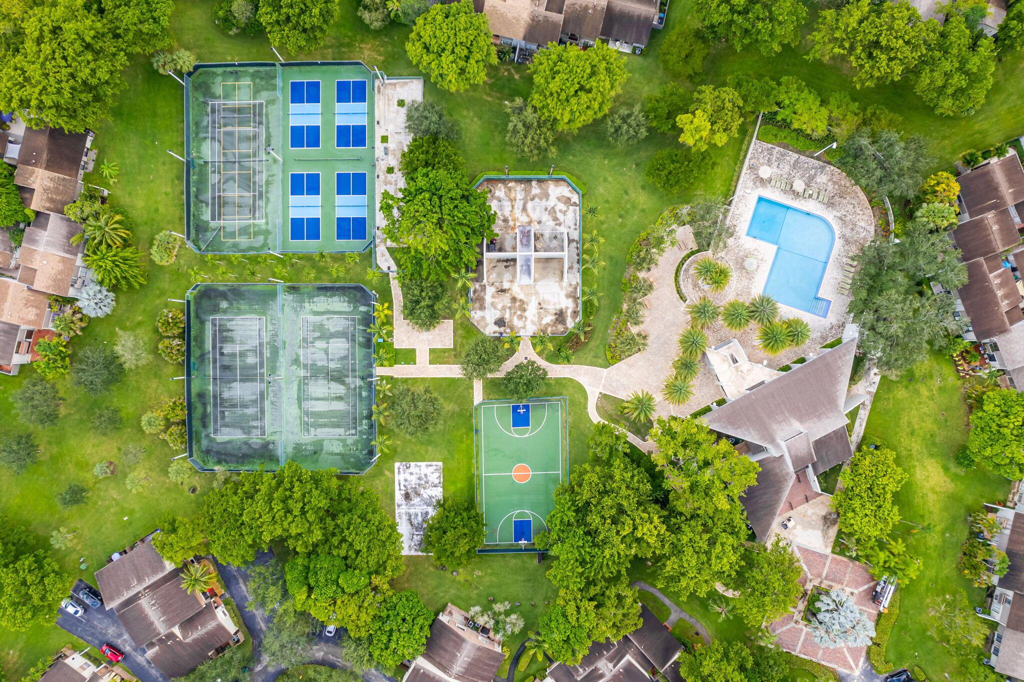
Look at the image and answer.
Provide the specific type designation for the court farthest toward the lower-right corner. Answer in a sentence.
I'd identify the court farthest toward the lower-right corner as a basketball court.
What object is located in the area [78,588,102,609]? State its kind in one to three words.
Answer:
car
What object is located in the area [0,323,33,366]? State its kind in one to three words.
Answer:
house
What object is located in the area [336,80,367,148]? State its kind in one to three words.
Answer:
sports court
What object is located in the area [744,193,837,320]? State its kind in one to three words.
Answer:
swimming pool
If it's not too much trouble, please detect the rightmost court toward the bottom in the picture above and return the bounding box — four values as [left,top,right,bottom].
[479,400,566,548]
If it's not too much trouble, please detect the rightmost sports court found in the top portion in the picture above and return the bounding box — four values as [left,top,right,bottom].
[471,179,580,335]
